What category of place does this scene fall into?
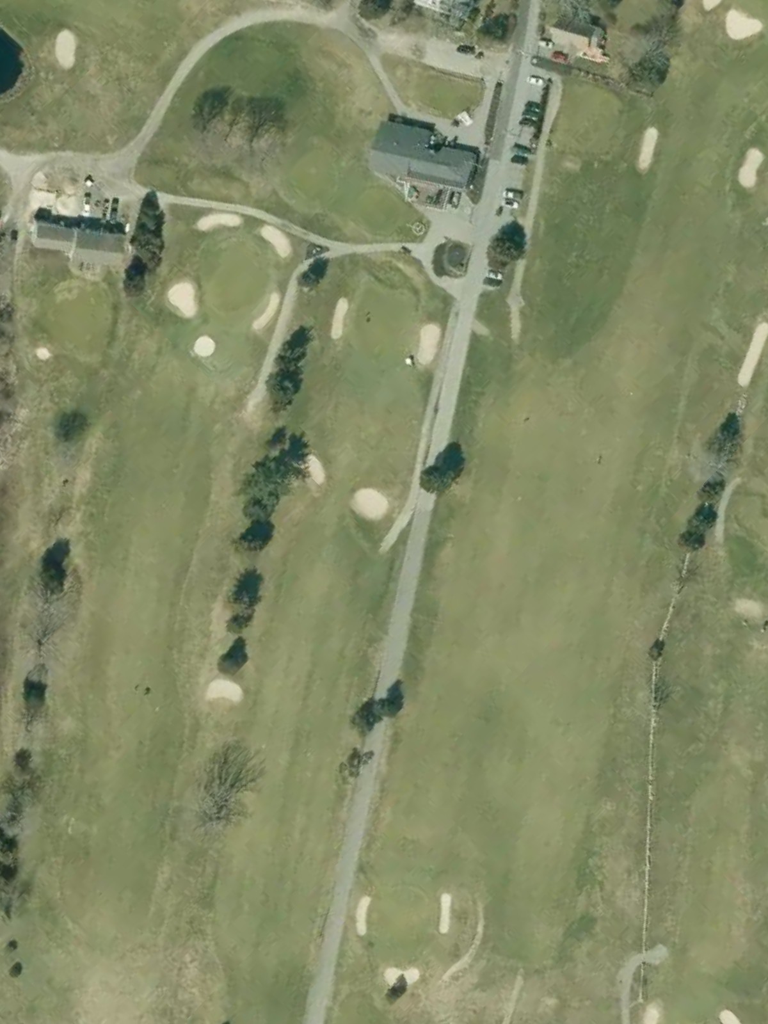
golf course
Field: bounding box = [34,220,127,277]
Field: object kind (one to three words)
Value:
shed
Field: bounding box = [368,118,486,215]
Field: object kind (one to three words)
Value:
building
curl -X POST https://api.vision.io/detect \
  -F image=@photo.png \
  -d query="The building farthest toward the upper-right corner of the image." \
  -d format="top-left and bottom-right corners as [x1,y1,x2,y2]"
[549,14,611,64]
